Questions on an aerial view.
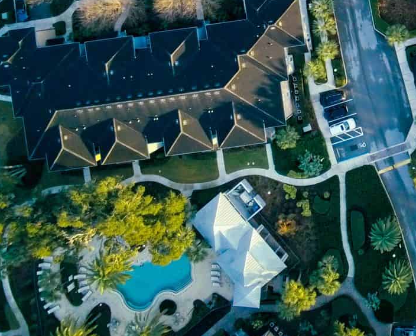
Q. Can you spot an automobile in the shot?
Yes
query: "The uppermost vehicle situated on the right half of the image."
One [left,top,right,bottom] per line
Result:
[320,90,347,106]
